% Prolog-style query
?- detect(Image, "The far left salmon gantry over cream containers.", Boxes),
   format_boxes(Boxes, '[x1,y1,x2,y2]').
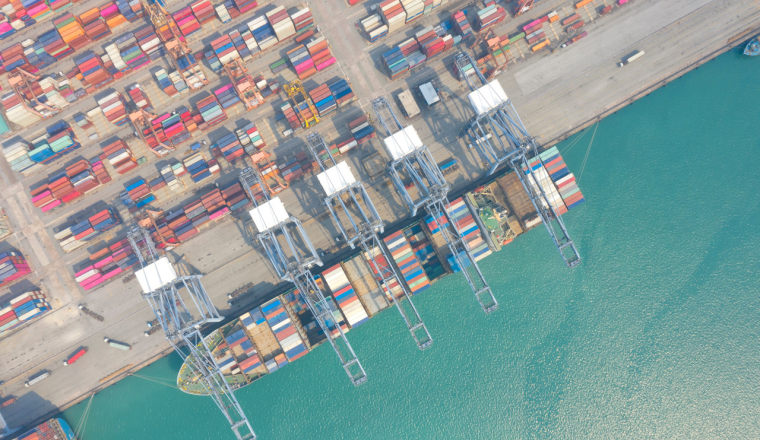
[7,70,60,122]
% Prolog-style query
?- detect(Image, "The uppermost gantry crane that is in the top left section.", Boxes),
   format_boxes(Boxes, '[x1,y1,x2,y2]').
[142,0,185,45]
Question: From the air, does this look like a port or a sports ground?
port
